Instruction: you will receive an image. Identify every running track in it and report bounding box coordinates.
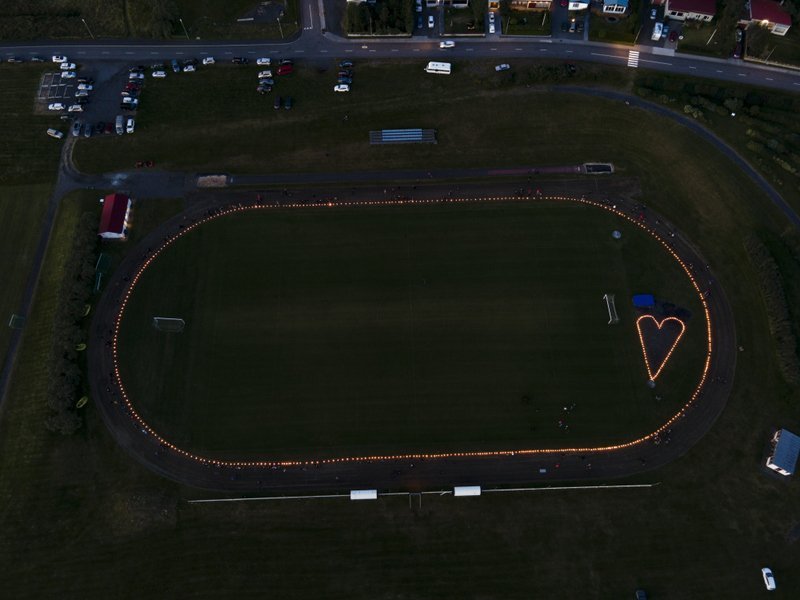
[87,177,737,495]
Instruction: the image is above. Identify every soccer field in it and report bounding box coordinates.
[115,198,710,465]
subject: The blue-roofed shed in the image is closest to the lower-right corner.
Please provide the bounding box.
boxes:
[758,426,800,477]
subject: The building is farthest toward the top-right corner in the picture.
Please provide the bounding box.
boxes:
[745,0,794,35]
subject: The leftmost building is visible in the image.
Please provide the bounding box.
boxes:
[97,191,131,238]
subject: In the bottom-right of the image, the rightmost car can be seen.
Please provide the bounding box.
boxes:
[761,568,777,589]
